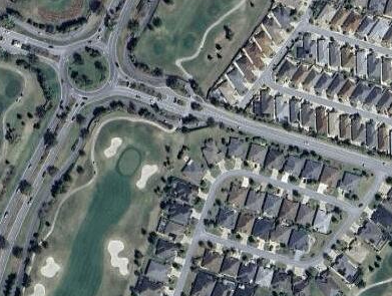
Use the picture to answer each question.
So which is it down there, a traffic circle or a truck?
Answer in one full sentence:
I can see a traffic circle in this picture.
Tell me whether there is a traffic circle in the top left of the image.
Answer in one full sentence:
Yes, you'll find a traffic circle in the top left of the image.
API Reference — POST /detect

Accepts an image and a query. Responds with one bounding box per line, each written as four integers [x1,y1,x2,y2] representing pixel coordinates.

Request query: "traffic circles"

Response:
[59,40,119,101]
